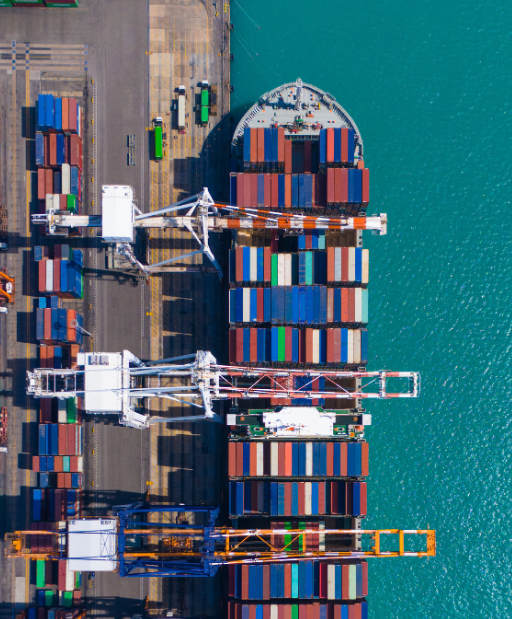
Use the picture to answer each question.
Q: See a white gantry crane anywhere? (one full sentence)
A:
Yes, you can see a white gantry crane in this photo.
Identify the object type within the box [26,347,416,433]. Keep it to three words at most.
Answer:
container crane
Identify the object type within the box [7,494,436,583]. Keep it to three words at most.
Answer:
container crane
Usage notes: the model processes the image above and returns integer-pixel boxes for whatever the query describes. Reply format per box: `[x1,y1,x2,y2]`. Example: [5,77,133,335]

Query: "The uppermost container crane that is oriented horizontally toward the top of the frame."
[33,184,387,288]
